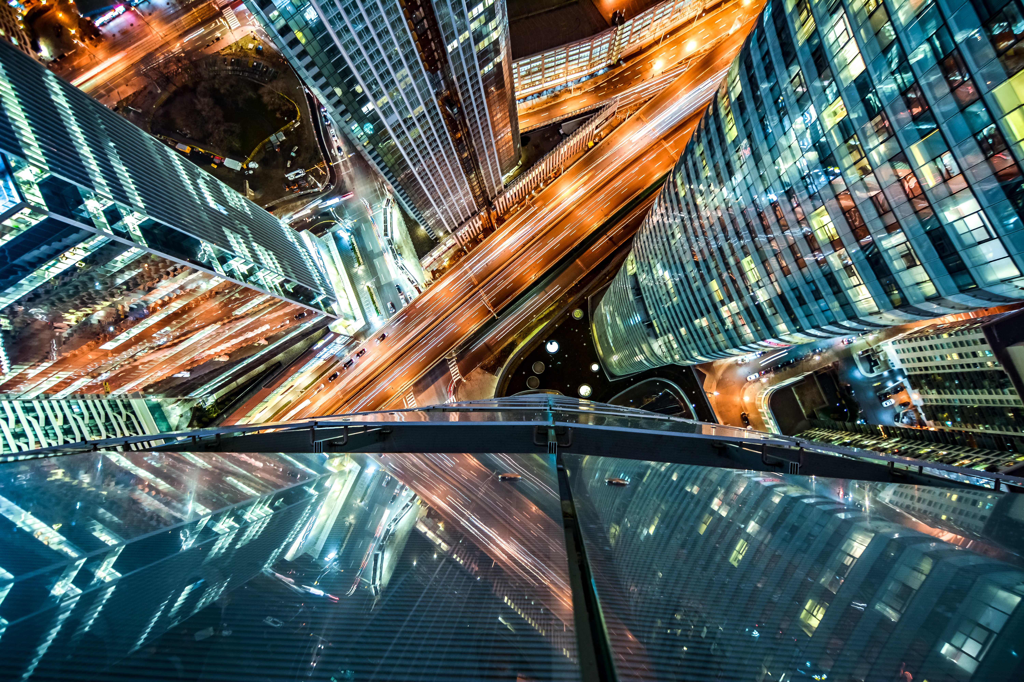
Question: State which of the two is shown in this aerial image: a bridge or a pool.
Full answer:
Visible in the photo is a bridge.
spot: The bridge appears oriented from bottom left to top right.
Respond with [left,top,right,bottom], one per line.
[267,8,763,422]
